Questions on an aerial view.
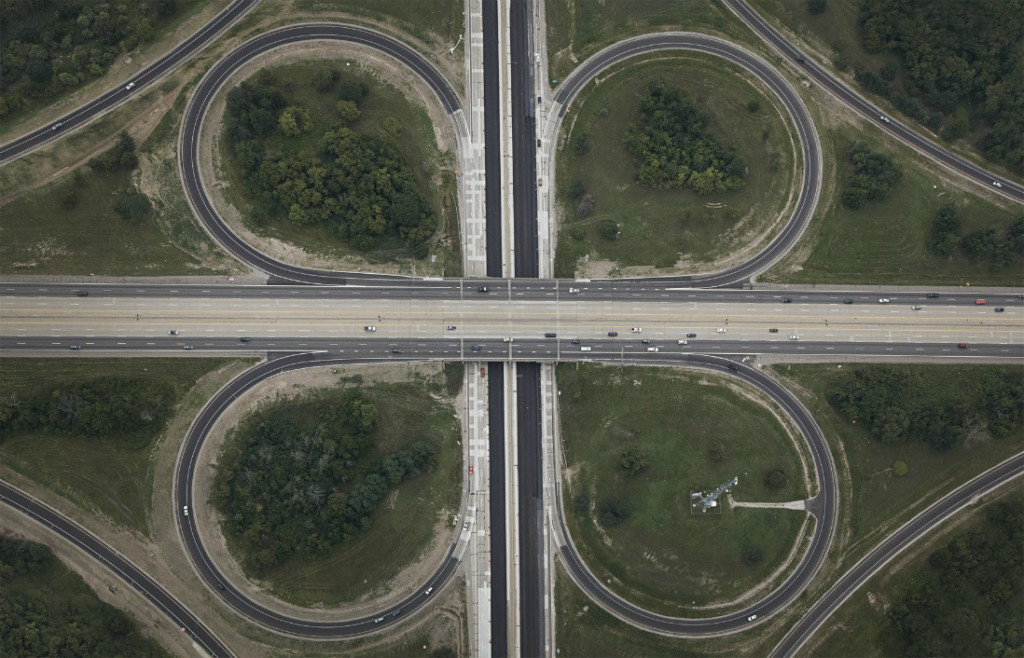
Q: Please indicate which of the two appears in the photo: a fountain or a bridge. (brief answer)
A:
bridge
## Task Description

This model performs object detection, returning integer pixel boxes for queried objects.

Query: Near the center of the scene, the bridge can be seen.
[423,272,591,371]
